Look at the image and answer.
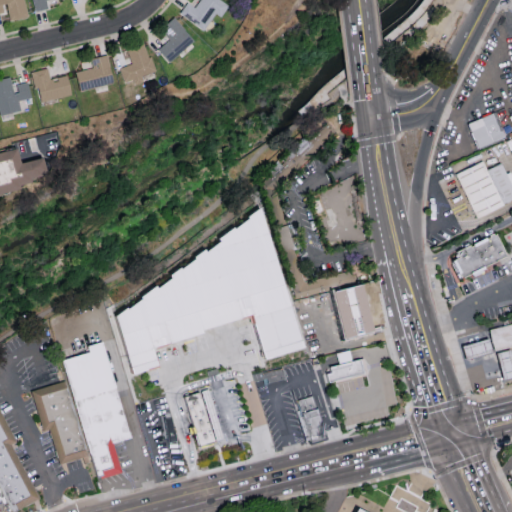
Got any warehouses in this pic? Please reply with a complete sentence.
Yes, you can see a warehouse in this photo.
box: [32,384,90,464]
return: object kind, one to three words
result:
building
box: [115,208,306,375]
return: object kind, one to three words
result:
warehouse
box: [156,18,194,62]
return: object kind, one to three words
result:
house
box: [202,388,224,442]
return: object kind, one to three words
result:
building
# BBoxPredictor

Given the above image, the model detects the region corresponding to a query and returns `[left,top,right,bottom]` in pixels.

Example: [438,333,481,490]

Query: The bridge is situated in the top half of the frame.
[339,0,384,76]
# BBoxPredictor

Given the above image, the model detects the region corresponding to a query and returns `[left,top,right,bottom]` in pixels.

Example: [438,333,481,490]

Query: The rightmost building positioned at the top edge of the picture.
[182,0,229,31]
